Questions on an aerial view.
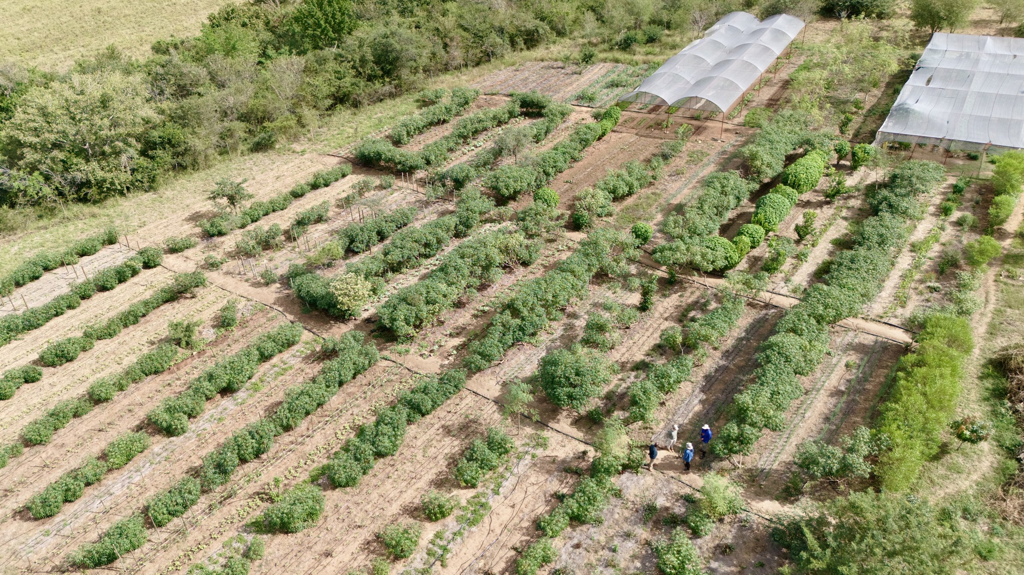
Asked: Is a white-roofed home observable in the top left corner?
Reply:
No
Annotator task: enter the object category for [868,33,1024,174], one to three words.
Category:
house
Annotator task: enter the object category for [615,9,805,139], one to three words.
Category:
house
